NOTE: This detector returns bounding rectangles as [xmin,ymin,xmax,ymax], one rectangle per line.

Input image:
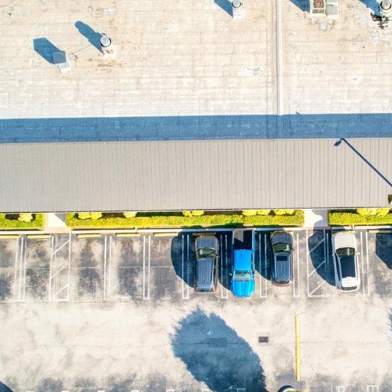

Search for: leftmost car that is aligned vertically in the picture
[192,233,220,296]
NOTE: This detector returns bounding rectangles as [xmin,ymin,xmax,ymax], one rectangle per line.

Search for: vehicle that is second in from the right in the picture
[228,228,257,299]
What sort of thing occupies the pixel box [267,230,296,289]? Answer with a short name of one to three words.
car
